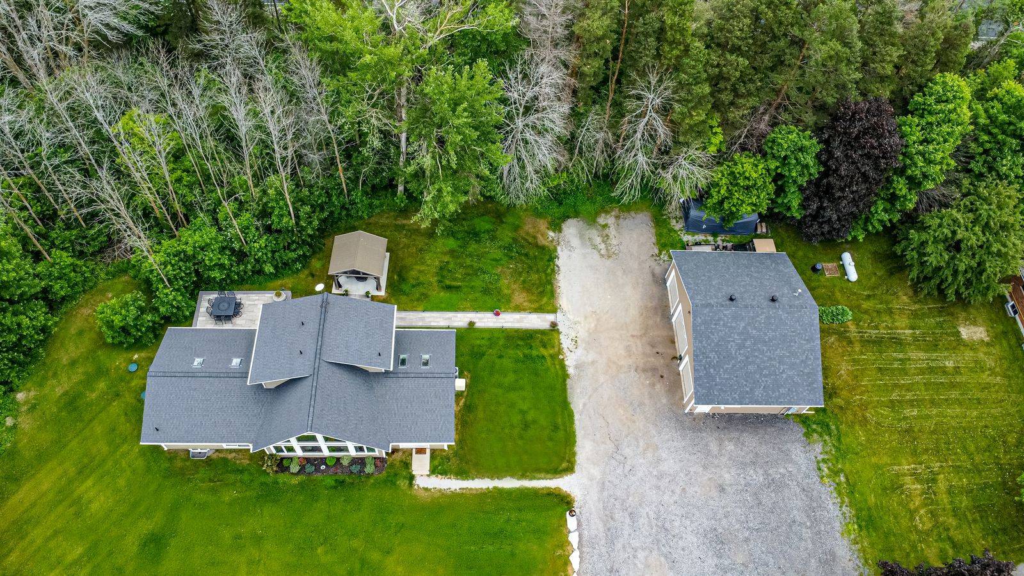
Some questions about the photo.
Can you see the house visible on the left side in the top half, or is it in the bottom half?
bottom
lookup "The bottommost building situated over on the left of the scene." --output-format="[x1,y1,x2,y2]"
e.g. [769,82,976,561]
[141,293,456,458]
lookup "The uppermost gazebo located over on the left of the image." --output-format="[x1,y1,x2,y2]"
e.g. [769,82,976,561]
[328,230,388,293]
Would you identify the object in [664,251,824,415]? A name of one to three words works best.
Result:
building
